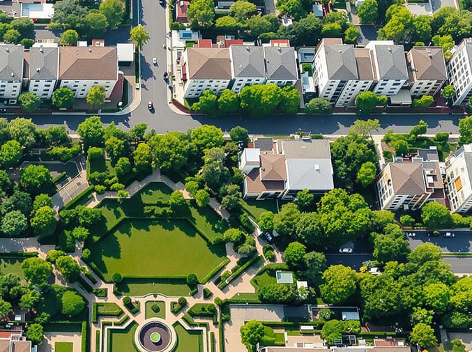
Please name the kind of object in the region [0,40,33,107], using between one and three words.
house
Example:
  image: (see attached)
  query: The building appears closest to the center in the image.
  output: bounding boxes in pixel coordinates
[241,137,334,202]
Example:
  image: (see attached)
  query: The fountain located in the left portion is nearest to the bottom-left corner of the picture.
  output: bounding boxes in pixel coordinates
[134,317,177,352]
